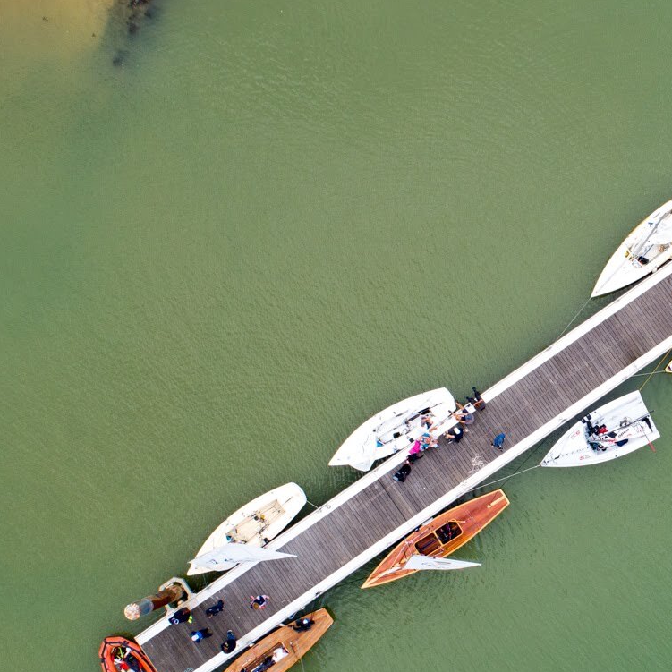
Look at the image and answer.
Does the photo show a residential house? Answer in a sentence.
No, the frame has no residential house in it.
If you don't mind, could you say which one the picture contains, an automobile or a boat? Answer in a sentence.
I can see a boat in this picture.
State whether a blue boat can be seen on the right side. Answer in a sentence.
No, no blue boat is visible on the right side.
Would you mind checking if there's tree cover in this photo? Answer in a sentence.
No, there's no tree cover in this view.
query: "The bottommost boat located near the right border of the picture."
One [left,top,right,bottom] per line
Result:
[540,390,660,468]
